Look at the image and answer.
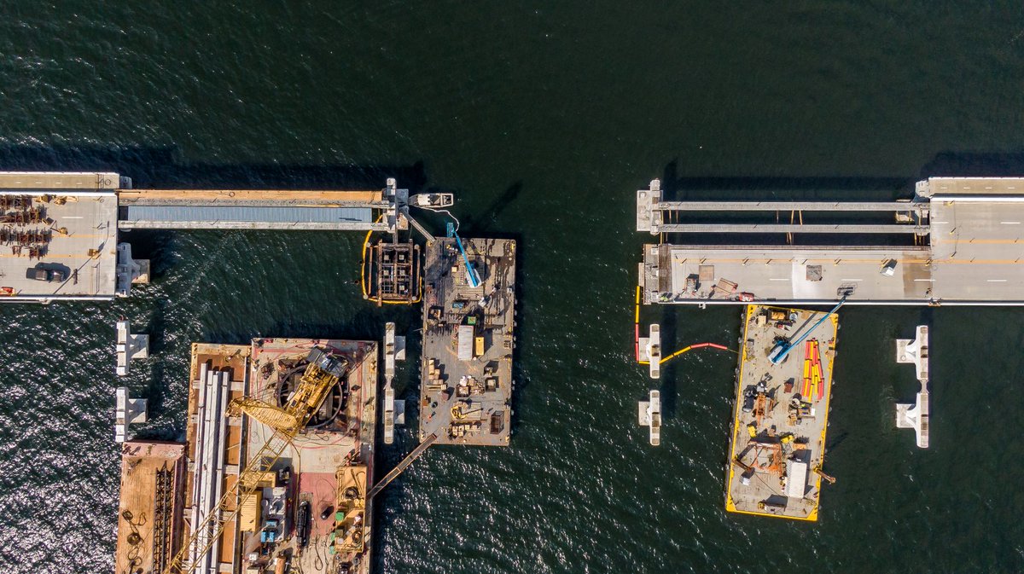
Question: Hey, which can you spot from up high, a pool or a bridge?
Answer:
bridge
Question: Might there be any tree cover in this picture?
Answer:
No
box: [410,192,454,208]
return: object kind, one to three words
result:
boat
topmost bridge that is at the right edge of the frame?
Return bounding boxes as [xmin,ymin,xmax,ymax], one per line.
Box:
[658,178,1024,306]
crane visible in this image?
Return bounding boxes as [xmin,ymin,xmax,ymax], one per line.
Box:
[162,343,355,574]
